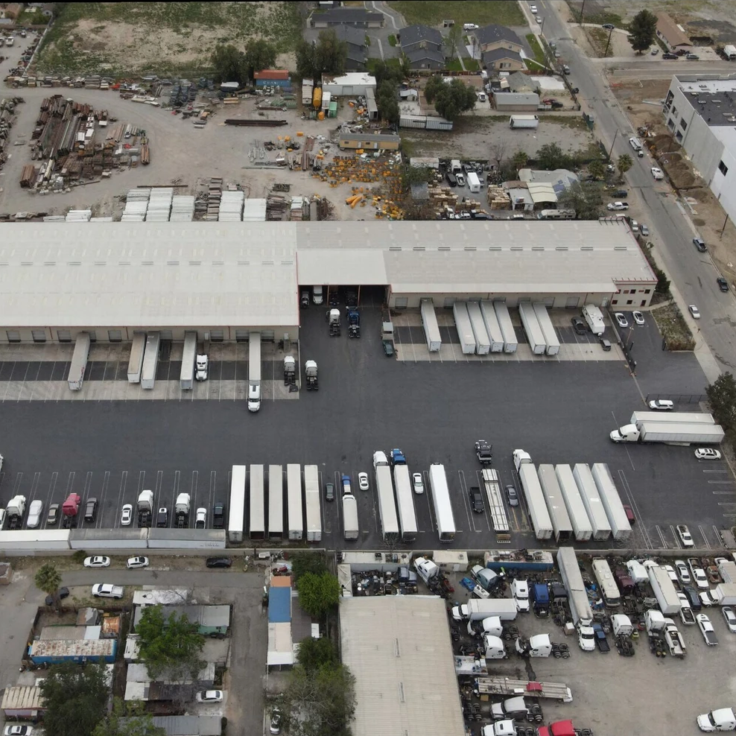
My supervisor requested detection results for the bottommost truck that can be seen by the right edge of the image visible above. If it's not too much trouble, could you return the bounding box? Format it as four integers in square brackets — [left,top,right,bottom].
[692,707,736,731]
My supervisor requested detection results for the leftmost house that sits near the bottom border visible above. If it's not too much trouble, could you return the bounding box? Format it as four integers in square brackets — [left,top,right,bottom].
[1,688,44,715]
